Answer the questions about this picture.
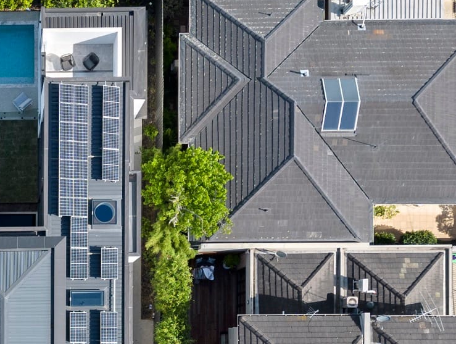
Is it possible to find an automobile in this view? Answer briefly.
No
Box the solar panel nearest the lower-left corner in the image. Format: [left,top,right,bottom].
[69,312,87,343]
